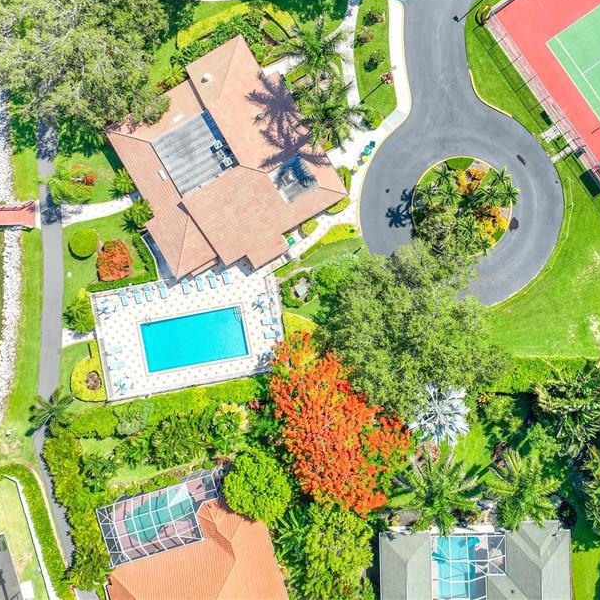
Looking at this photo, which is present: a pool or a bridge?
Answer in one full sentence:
The image shows a pool.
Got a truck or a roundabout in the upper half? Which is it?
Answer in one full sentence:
Looking in the upper half, you will find a roundabout.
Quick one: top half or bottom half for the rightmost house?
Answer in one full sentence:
The bottom half of the photo is where the rightmost house is.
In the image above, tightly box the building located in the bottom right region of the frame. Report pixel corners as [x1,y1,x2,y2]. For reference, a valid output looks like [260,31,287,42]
[379,514,571,600]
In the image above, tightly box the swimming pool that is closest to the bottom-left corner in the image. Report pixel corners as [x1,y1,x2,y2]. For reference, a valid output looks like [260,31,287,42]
[123,484,195,544]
